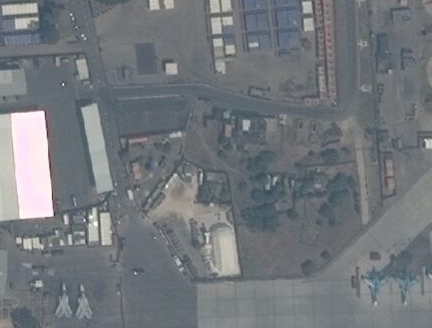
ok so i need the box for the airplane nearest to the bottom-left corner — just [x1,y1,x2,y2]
[54,283,71,320]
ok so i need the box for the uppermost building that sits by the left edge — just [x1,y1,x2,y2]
[1,2,37,16]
